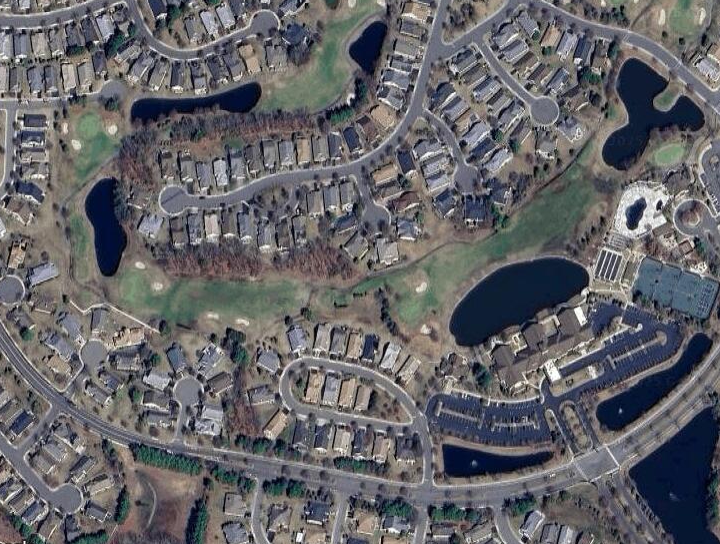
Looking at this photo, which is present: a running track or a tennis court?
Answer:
tennis court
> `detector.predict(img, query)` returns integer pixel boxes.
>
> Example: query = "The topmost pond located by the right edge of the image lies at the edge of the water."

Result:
[603,59,704,171]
